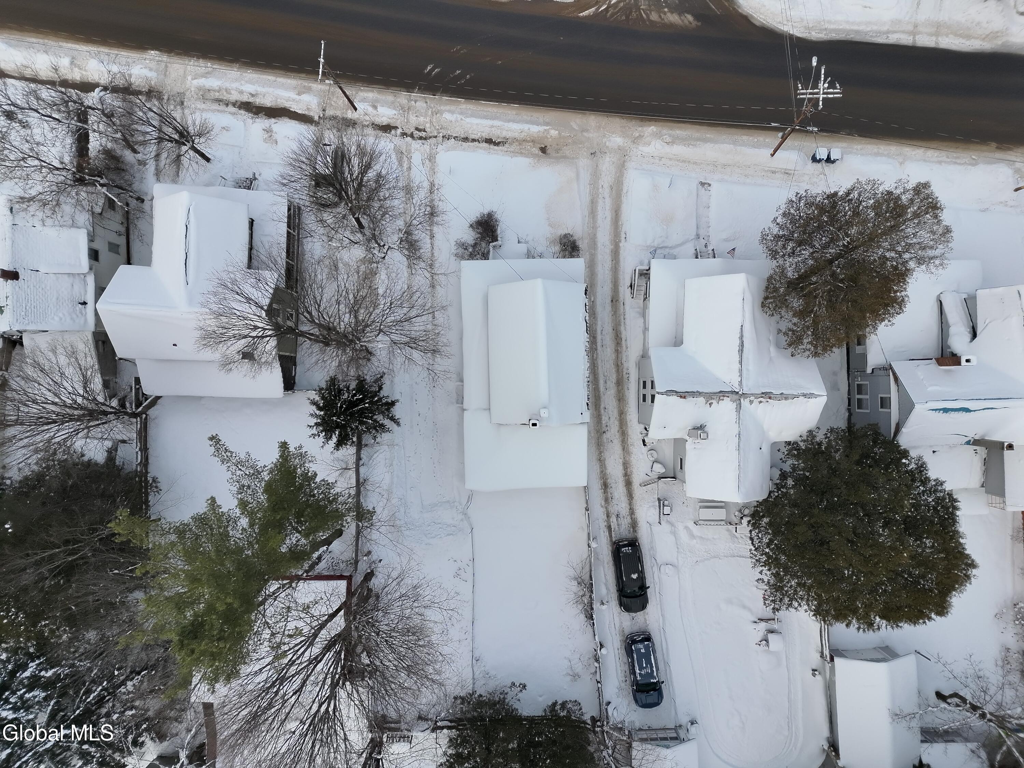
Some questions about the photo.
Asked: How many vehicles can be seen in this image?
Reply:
2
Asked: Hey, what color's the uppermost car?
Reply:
black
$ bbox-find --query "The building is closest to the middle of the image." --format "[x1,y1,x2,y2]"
[461,258,591,490]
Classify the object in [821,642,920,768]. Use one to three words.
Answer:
building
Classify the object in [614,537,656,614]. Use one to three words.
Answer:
car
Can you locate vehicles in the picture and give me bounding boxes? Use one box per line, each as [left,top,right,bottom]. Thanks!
[624,630,665,707]
[614,537,656,614]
